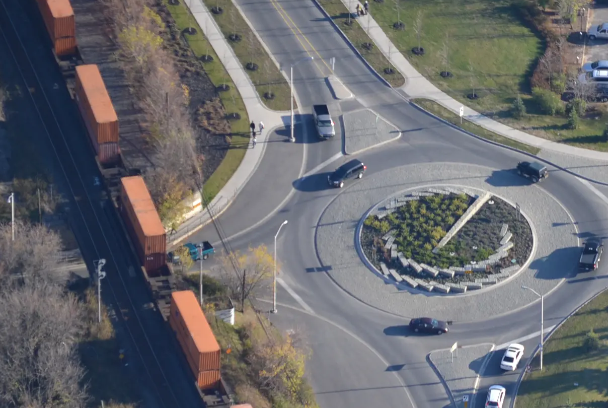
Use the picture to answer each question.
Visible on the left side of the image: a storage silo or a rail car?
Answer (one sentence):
What appears on the left side of the image is a rail car.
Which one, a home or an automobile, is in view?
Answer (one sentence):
I can see an automobile in this picture.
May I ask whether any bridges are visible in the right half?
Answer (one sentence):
No, looking in the right half, there is no bridge.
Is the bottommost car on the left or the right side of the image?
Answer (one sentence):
The bottommost car appears in the right half of the scene.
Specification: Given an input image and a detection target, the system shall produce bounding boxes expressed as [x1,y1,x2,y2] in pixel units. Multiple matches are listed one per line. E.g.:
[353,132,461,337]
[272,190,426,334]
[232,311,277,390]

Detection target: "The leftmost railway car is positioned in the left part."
[32,0,82,85]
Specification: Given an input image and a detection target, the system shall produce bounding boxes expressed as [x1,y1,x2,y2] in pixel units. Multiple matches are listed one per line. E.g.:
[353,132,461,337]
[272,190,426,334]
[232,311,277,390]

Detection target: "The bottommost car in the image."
[485,381,507,408]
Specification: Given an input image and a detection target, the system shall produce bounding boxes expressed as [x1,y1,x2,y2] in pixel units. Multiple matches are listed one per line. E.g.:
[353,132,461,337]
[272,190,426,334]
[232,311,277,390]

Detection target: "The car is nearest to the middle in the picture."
[326,156,368,186]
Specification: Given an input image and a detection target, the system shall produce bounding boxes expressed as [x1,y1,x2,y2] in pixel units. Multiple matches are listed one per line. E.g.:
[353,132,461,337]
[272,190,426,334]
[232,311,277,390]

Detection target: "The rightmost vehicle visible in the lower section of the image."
[580,235,603,269]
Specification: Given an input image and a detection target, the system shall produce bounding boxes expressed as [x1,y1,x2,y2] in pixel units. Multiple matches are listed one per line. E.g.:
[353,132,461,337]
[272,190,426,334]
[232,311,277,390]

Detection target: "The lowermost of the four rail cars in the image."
[163,295,229,408]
